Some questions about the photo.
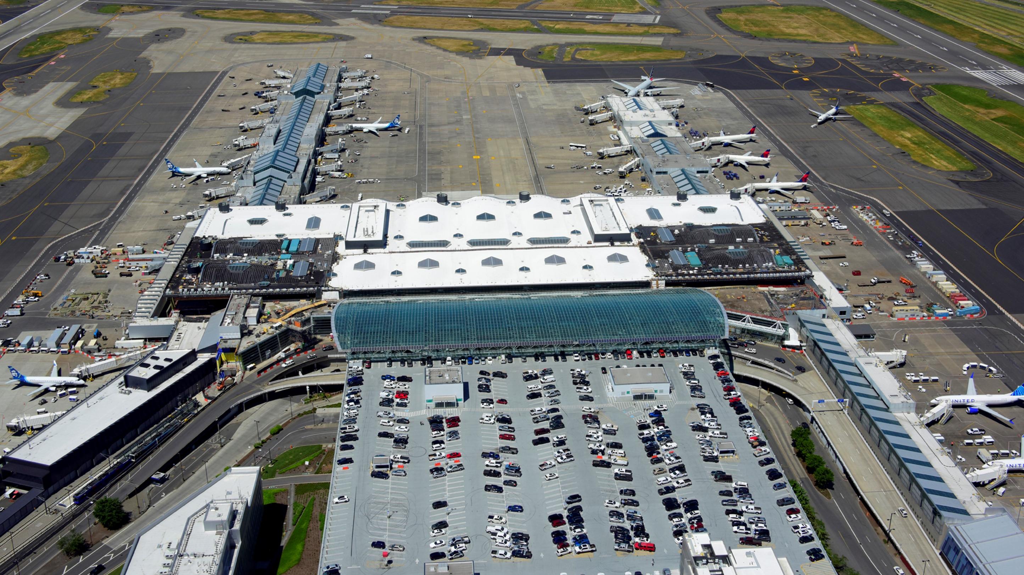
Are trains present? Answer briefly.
Yes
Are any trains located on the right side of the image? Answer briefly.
No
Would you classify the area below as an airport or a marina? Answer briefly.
airport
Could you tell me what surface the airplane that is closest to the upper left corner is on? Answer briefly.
apron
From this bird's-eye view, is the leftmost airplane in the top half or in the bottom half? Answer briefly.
bottom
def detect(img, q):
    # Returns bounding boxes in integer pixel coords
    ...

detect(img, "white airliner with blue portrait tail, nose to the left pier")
[164,157,231,179]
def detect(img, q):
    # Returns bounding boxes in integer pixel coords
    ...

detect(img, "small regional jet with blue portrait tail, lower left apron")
[3,361,85,397]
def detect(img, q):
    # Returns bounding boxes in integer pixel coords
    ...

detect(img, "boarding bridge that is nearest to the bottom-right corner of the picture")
[964,463,1012,488]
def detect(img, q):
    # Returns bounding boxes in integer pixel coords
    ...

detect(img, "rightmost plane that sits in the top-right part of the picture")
[807,96,860,124]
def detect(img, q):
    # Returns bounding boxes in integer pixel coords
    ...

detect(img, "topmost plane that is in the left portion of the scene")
[342,113,402,132]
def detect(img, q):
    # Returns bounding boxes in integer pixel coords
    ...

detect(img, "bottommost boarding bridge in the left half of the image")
[5,409,70,435]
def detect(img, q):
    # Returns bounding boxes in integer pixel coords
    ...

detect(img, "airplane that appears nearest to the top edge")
[620,69,674,96]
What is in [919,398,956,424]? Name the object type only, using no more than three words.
jet bridge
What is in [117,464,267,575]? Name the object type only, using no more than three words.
building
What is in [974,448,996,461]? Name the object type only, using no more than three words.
vehicle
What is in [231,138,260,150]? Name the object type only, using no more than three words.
jet bridge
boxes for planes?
[703,125,760,145]
[712,147,774,166]
[807,96,860,124]
[741,169,816,194]
[620,69,674,96]
[342,113,402,132]
[982,458,1024,470]
[3,361,85,397]
[164,157,231,179]
[930,372,1024,422]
